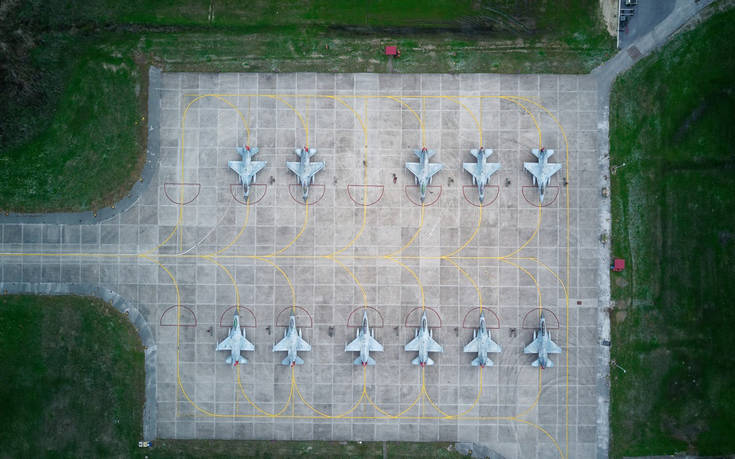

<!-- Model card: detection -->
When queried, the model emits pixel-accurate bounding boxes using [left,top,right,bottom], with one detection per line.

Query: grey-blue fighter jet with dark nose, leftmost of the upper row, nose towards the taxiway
[228,145,266,201]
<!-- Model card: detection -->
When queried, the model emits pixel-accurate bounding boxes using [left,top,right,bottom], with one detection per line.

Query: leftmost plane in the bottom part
[217,310,256,367]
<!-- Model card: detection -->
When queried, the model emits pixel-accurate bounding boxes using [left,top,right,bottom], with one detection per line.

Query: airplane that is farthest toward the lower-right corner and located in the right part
[523,313,562,370]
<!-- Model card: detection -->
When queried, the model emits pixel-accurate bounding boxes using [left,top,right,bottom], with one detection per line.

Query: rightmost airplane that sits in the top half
[523,147,562,203]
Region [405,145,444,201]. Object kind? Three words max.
airplane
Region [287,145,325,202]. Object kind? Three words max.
airplane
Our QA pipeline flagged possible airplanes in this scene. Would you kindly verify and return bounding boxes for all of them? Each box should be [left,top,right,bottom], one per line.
[217,310,256,367]
[273,311,312,368]
[404,312,443,368]
[287,145,325,202]
[462,146,501,205]
[228,145,266,201]
[405,145,444,201]
[463,312,502,368]
[523,313,562,370]
[345,312,383,368]
[523,147,562,203]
